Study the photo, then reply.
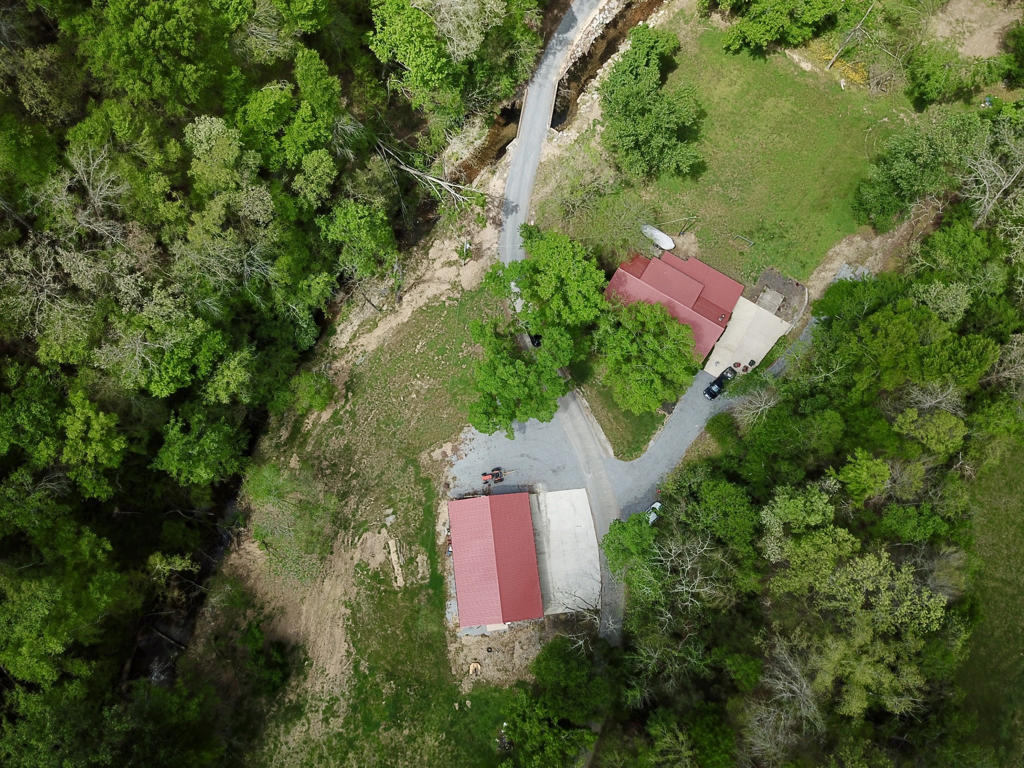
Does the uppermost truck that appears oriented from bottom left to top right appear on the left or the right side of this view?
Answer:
right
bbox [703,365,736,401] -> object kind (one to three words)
truck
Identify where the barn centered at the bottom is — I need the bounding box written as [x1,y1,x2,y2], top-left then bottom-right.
[448,493,543,633]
